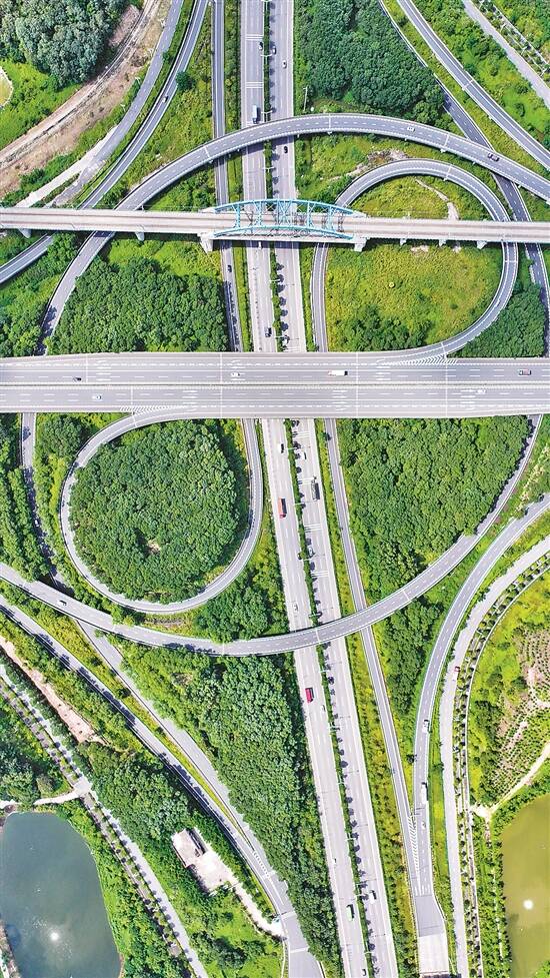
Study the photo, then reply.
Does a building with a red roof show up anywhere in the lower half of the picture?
No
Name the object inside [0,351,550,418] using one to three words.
bridge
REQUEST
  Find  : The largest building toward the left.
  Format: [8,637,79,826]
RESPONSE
[173,825,211,867]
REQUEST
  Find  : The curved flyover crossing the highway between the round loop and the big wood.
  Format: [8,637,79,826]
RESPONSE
[0,448,534,657]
